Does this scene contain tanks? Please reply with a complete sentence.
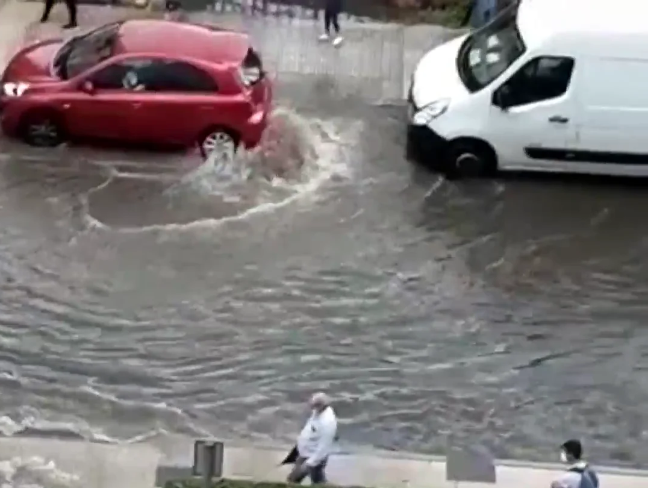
No, there appears to be no tank in this shot.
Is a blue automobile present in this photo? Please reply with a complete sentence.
No, the scene contains no blue automobile.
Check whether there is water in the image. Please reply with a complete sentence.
Yes, there is water in the image.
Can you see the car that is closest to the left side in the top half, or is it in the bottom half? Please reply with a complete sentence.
The top half of the photo is where the car that is closest to the left side is.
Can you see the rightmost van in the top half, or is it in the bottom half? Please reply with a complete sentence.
It is in the top half that the rightmost van appears.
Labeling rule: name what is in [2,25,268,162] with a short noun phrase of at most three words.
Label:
car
